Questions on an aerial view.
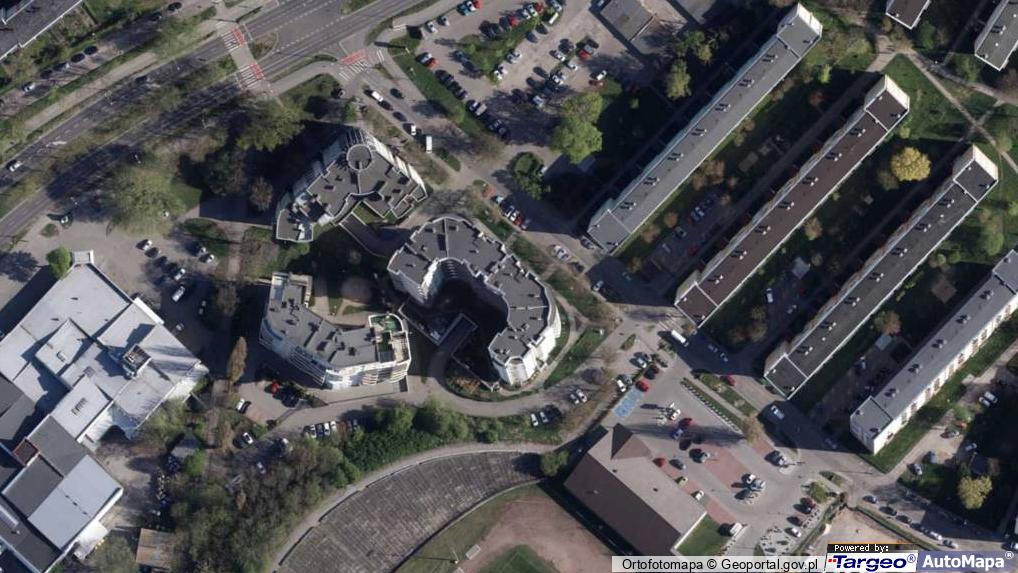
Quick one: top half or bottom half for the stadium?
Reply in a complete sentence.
The stadium is in the bottom half of the image.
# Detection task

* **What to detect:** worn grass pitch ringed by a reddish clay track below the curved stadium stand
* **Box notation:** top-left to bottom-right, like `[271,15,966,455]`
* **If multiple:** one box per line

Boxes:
[460,495,638,573]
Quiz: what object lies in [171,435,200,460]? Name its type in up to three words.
shed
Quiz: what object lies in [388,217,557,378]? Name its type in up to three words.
building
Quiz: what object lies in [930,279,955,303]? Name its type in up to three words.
shed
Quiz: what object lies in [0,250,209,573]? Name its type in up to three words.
building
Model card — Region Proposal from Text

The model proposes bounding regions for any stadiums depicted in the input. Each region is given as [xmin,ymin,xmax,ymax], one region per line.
[271,450,541,573]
